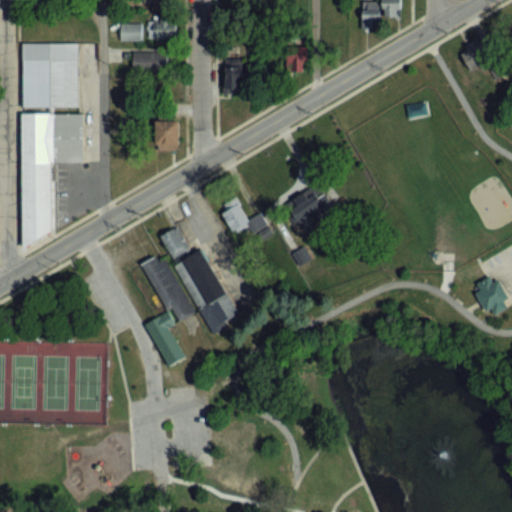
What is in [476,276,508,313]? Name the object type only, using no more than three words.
building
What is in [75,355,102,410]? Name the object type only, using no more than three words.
tennis court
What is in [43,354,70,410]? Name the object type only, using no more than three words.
tennis court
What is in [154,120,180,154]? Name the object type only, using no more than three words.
house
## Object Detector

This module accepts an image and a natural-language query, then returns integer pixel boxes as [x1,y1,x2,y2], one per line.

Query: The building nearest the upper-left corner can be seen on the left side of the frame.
[21,42,80,108]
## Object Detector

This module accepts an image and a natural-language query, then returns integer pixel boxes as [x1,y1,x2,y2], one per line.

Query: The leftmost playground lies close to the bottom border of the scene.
[64,432,130,502]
